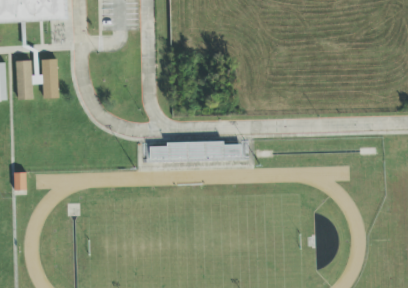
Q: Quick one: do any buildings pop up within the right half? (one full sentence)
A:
No, the scene shows no building within the right half.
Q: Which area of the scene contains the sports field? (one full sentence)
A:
The sports field appears toward the bottom of the photo.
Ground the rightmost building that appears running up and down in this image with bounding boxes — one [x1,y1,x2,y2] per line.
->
[41,59,59,100]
